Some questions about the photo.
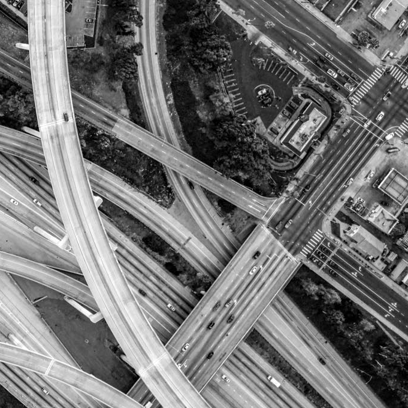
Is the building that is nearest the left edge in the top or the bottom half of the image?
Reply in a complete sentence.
You can find the building that is nearest the left edge in the top half.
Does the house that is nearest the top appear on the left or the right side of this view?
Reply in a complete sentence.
You can find the house that is nearest the top on the right side of the picture.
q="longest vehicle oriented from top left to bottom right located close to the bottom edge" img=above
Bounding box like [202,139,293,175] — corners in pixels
[268,375,285,390]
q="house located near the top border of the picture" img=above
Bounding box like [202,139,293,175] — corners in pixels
[366,0,408,30]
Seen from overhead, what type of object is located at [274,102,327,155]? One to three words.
building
